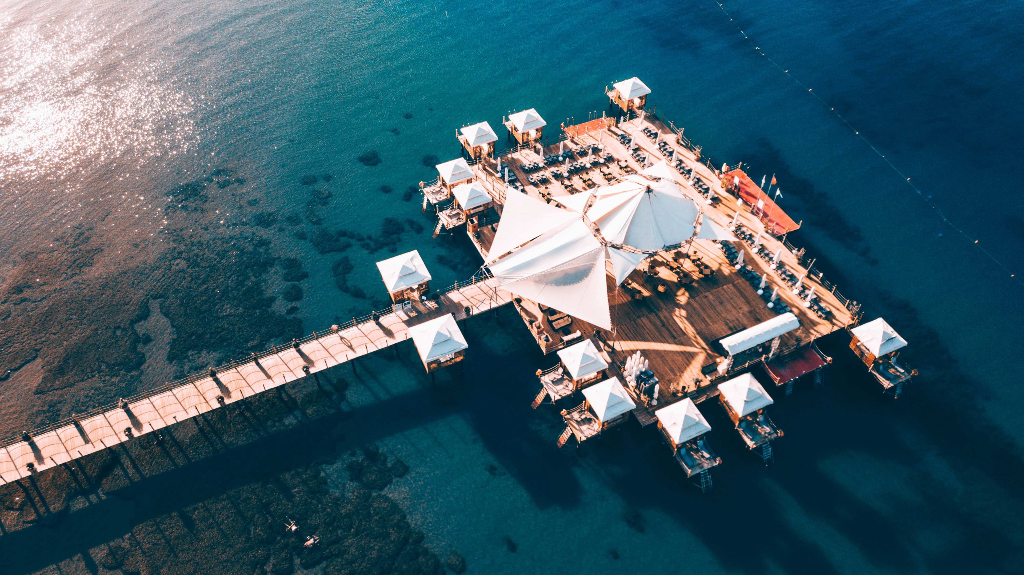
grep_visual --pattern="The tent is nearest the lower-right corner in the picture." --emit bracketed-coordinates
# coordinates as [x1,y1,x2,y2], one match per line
[827,317,915,424]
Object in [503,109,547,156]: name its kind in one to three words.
tent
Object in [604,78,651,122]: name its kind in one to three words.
tent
